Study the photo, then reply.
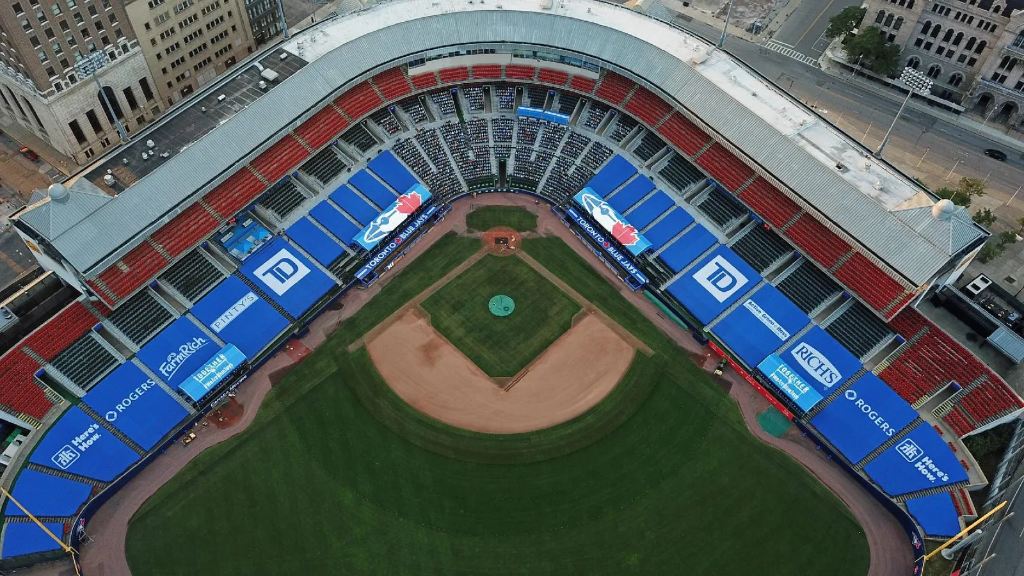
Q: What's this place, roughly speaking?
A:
sports ground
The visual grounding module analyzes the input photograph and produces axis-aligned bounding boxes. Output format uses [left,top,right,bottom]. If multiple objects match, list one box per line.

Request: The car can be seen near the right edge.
[986,146,1007,159]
